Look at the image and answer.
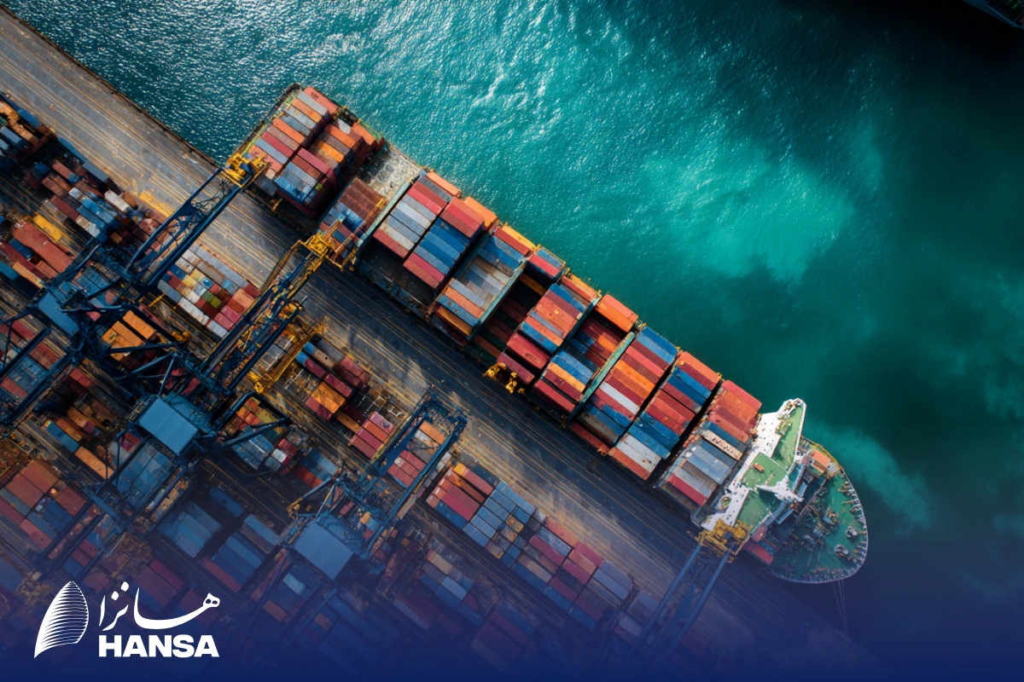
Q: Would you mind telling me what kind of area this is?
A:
port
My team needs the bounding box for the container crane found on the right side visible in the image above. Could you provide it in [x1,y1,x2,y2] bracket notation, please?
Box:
[560,508,749,682]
